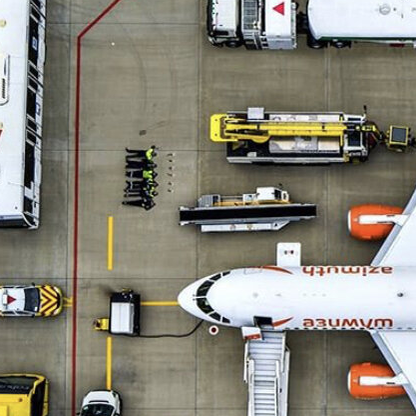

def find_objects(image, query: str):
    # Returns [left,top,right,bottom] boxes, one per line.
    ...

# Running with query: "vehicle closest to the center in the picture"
[180,182,318,239]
